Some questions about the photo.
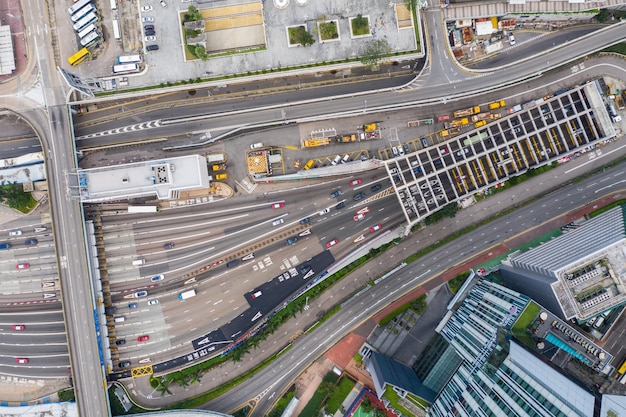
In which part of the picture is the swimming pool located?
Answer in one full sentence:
The swimming pool is located in the bottom right region of the scene.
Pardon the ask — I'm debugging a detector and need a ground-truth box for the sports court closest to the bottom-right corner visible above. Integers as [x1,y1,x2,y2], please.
[349,386,390,417]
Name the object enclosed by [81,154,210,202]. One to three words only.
building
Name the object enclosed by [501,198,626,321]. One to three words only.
building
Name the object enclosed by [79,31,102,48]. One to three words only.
vehicle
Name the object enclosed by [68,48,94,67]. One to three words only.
vehicle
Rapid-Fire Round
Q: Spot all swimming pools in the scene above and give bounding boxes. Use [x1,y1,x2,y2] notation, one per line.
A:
[546,332,592,366]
